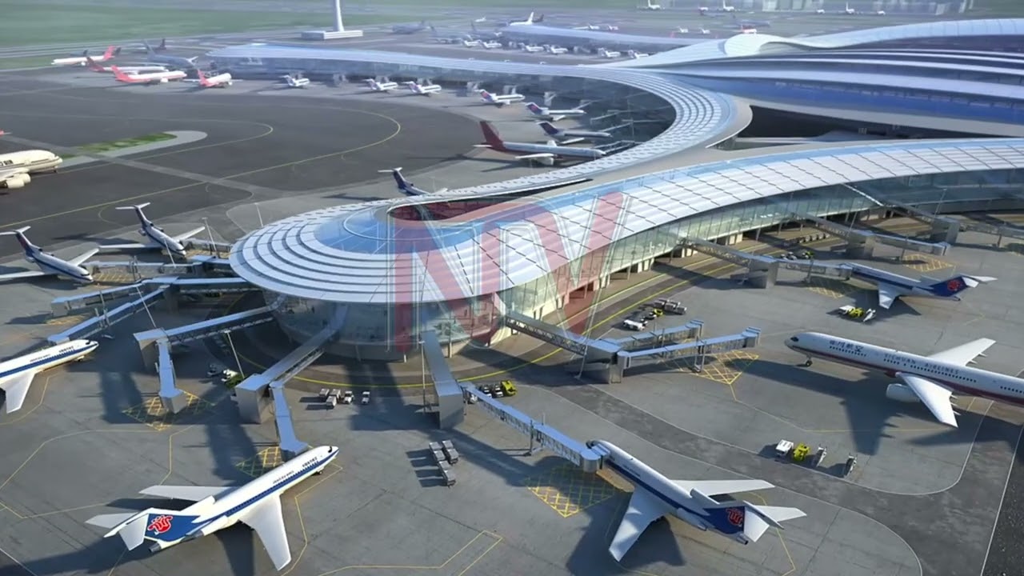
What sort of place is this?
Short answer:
airport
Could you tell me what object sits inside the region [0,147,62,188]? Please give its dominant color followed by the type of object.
white airplane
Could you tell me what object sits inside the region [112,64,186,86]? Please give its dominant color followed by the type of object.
white airplane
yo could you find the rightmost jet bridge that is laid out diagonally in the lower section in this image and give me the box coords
[419,326,608,483]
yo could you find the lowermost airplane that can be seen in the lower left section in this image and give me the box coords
[86,446,337,568]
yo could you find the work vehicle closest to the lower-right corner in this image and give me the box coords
[843,449,860,475]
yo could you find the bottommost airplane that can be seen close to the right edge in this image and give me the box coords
[785,334,1024,427]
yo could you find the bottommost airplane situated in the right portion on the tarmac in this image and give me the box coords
[588,441,805,560]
